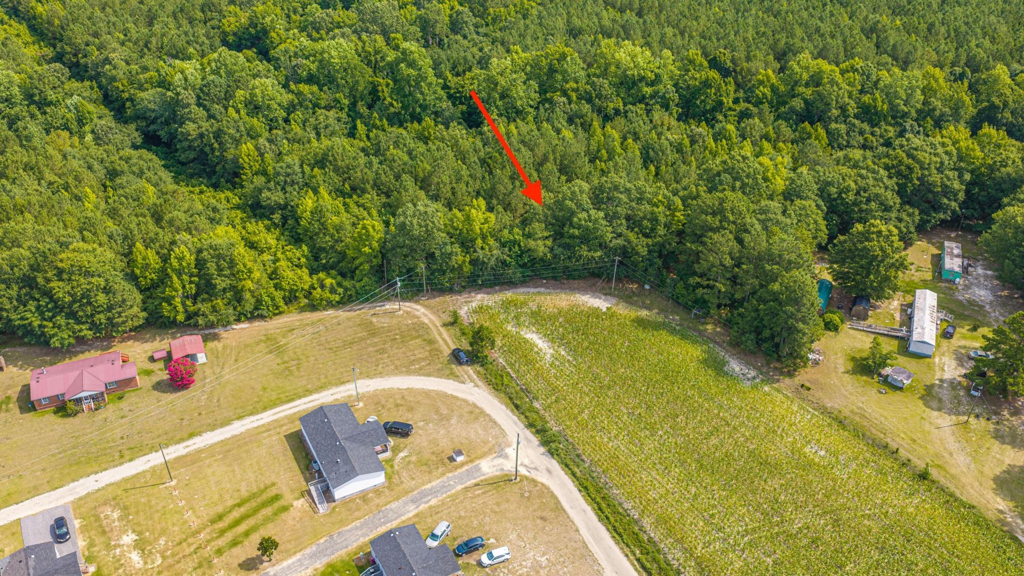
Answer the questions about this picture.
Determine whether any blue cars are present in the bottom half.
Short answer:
Yes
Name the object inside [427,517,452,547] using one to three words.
car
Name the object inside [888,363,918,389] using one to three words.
shed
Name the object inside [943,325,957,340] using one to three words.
car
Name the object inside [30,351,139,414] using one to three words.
house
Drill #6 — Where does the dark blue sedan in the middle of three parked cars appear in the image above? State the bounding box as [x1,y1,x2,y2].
[453,535,487,559]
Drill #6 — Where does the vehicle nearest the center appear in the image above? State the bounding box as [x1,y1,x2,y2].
[451,348,470,365]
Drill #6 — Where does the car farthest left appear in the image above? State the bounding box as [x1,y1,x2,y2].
[52,515,70,543]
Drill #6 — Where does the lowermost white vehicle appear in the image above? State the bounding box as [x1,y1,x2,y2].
[478,544,513,569]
